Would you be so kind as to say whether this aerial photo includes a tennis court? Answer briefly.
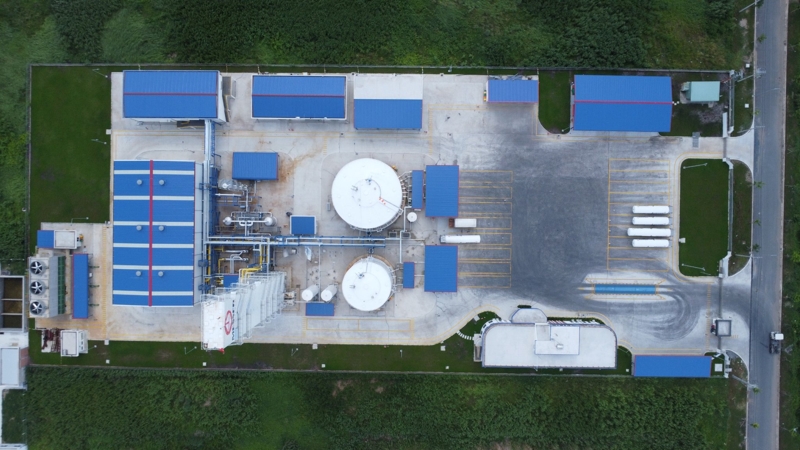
No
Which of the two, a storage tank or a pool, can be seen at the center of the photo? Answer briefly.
storage tank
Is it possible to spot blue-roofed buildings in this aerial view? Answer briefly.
Yes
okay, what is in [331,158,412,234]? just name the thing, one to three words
storage tank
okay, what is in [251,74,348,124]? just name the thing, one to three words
building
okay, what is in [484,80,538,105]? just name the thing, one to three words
shed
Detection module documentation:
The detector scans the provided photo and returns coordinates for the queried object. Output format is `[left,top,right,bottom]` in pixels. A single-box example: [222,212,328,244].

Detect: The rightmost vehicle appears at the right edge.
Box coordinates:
[767,331,784,355]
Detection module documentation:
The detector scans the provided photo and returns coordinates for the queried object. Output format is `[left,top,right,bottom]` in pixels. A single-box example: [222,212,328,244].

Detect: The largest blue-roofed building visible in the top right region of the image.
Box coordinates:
[569,75,673,134]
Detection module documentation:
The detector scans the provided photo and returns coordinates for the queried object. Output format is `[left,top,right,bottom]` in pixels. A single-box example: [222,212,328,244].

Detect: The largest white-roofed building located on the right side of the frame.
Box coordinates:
[473,307,616,371]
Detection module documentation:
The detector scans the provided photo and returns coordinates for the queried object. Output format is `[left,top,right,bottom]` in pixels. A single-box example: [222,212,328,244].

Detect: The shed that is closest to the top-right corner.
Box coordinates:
[680,81,719,107]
